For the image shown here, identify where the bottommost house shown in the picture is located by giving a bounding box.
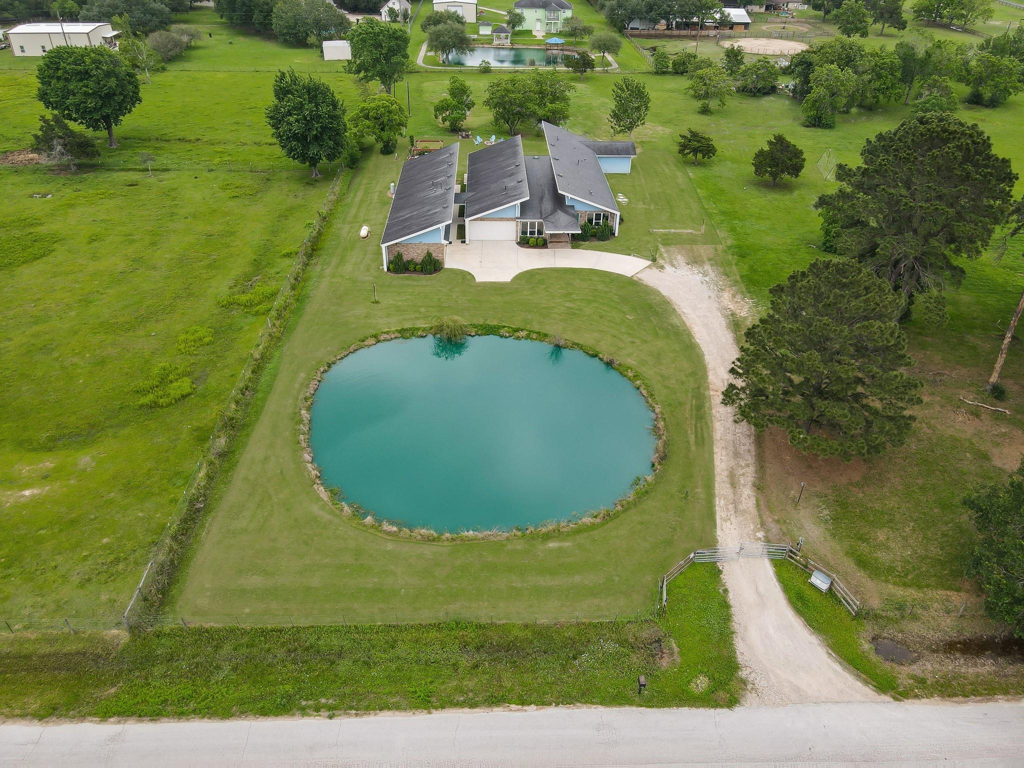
[380,121,637,268]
